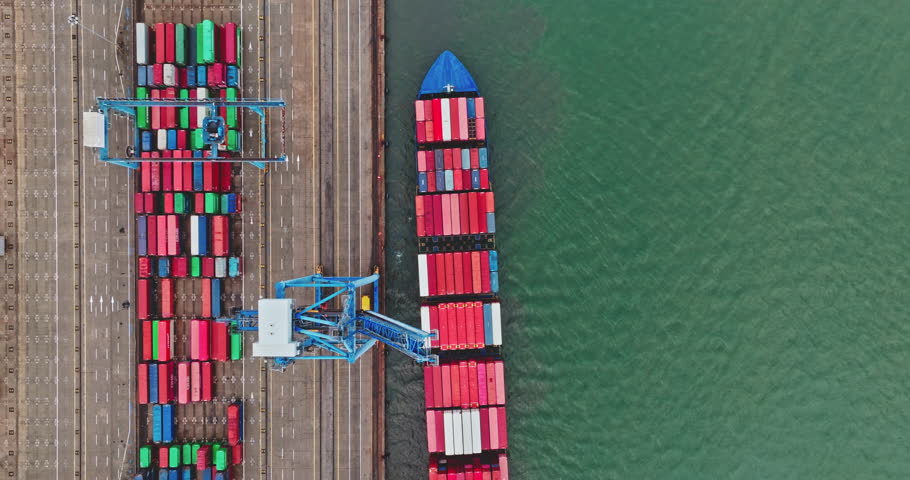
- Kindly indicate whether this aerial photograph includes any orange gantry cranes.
No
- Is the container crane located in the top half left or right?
left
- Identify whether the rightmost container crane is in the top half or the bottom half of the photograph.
bottom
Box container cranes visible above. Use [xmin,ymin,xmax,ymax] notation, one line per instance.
[81,99,289,179]
[215,262,443,369]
